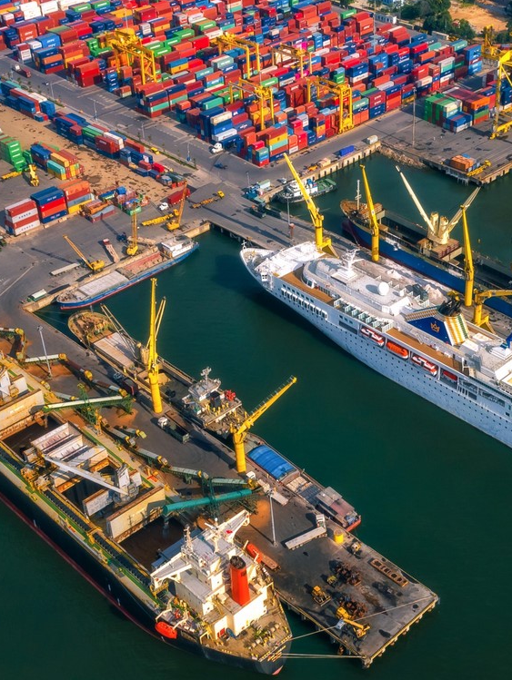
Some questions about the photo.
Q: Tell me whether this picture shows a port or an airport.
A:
port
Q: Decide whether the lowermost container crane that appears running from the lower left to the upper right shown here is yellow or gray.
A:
yellow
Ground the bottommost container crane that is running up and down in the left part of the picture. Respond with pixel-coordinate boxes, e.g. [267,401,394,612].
[142,278,163,415]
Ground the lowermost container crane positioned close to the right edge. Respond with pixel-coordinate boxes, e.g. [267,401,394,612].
[473,270,512,327]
